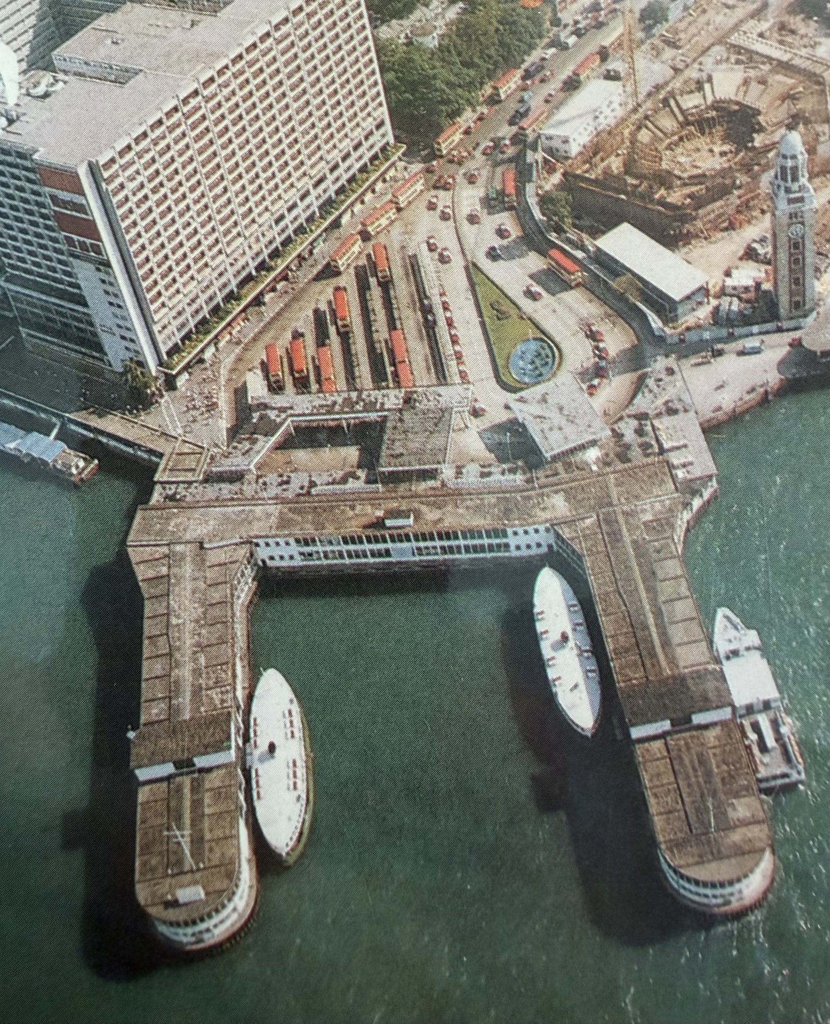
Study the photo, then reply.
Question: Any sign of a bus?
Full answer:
Yes, the photo shows a bus.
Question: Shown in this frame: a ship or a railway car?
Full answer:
The image shows a ship.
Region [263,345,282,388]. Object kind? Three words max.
vehicle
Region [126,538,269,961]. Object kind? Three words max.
pier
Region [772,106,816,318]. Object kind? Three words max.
building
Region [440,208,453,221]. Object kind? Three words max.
vehicle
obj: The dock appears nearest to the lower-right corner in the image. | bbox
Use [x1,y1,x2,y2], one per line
[555,498,779,924]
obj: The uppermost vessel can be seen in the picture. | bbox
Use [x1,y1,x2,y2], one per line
[0,421,104,484]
